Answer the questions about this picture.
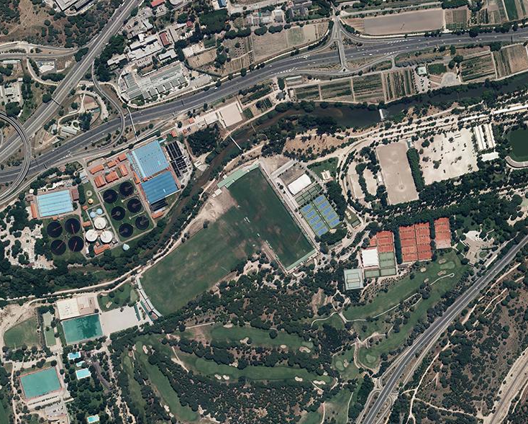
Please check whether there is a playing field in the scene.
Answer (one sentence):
Yes, the photo shows a playing field.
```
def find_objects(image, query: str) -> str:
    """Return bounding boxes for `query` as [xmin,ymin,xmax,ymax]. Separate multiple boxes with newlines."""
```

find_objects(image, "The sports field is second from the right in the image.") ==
[62,314,102,344]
